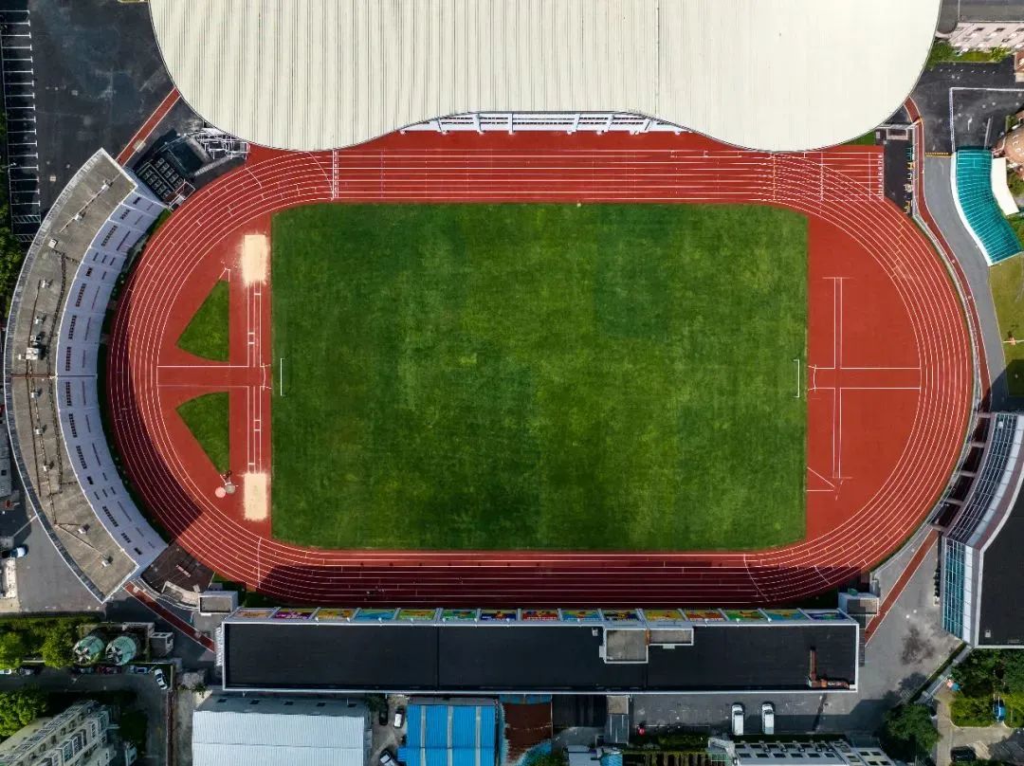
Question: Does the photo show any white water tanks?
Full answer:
No, the scene contains no white water tank.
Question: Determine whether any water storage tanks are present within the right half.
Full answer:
No, I can find no water storage tank within the right half.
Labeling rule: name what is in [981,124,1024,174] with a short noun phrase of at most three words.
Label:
building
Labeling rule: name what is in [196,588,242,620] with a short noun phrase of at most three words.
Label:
shed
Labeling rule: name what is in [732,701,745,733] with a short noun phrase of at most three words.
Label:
vehicle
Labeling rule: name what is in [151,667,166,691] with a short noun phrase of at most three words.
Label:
car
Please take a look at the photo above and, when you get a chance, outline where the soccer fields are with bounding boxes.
[271,202,808,552]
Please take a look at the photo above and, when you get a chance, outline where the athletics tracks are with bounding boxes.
[106,131,972,606]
